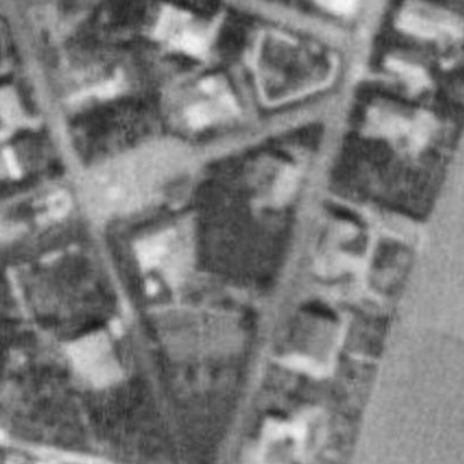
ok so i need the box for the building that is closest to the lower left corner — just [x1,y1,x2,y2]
[67,333,124,389]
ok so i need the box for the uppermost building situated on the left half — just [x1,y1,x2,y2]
[153,5,212,61]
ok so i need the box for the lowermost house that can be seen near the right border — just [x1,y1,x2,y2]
[360,97,442,154]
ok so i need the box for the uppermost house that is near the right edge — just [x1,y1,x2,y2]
[397,0,464,42]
